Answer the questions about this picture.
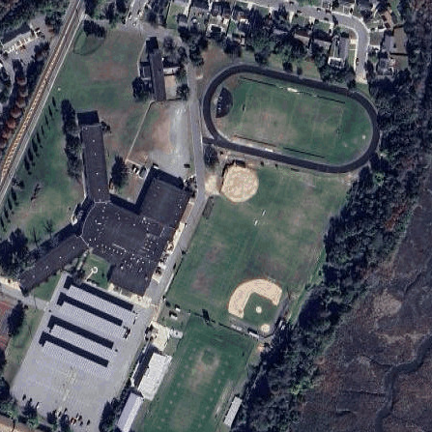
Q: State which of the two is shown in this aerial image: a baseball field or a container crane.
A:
baseball field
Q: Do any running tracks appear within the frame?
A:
Yes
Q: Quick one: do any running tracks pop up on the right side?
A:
Yes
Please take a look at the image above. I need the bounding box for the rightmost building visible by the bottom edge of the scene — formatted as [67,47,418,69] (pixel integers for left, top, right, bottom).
[115,392,142,431]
